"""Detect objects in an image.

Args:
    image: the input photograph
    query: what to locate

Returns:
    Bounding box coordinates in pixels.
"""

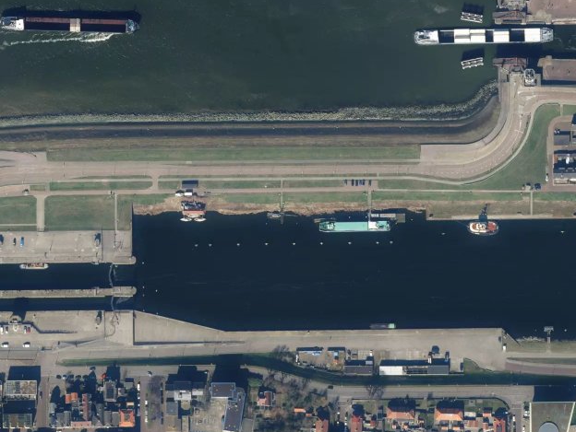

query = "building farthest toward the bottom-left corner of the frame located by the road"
[3,414,33,429]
